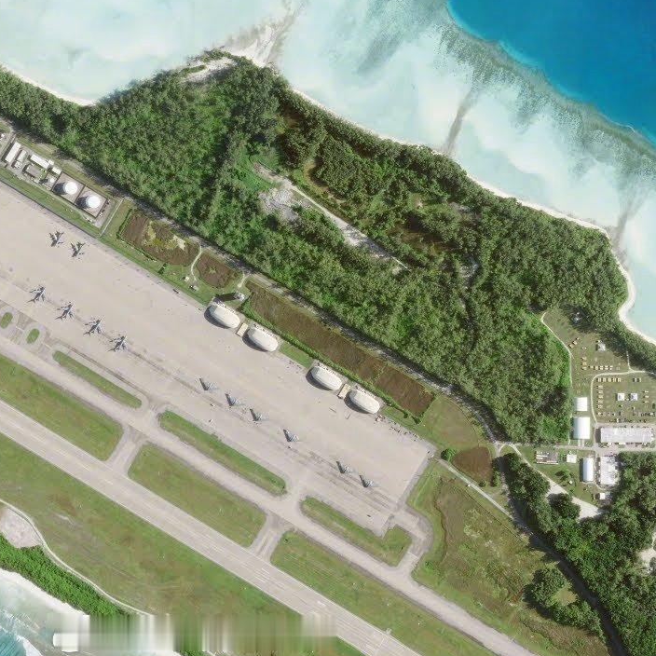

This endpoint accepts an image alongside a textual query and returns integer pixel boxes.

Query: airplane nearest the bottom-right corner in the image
[360,473,381,487]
